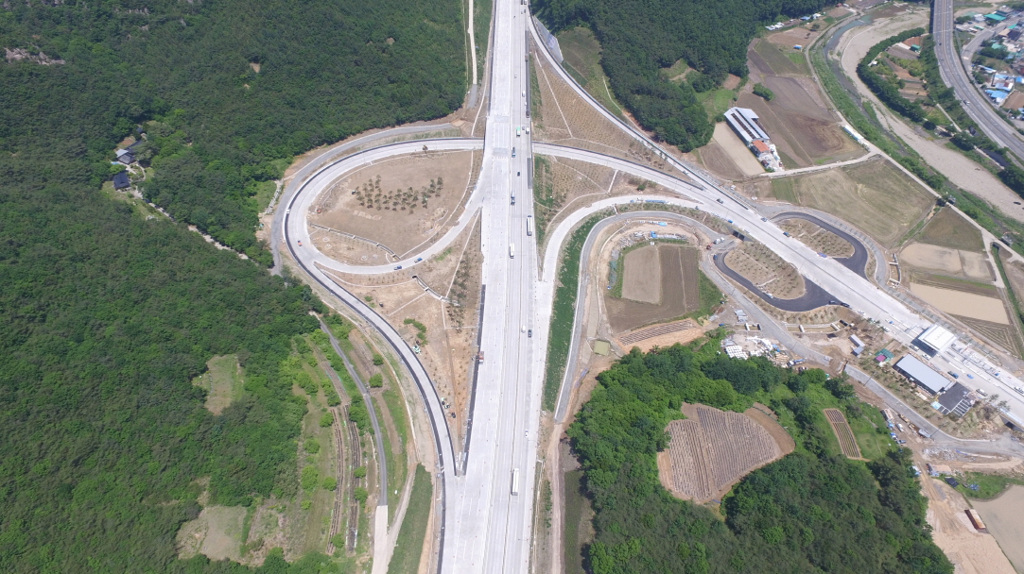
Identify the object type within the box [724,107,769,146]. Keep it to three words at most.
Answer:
shed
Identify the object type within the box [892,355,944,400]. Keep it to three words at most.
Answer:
building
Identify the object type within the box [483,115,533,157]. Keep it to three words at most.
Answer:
overpass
